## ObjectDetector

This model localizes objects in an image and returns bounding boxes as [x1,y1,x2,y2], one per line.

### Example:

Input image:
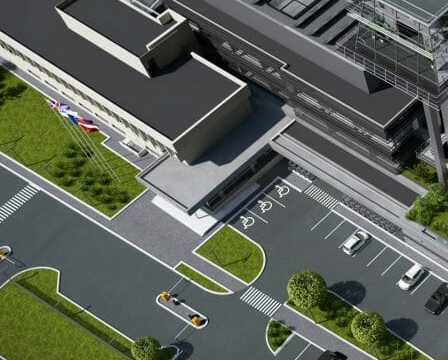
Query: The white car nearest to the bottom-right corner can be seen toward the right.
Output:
[396,263,427,292]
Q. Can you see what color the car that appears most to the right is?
black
